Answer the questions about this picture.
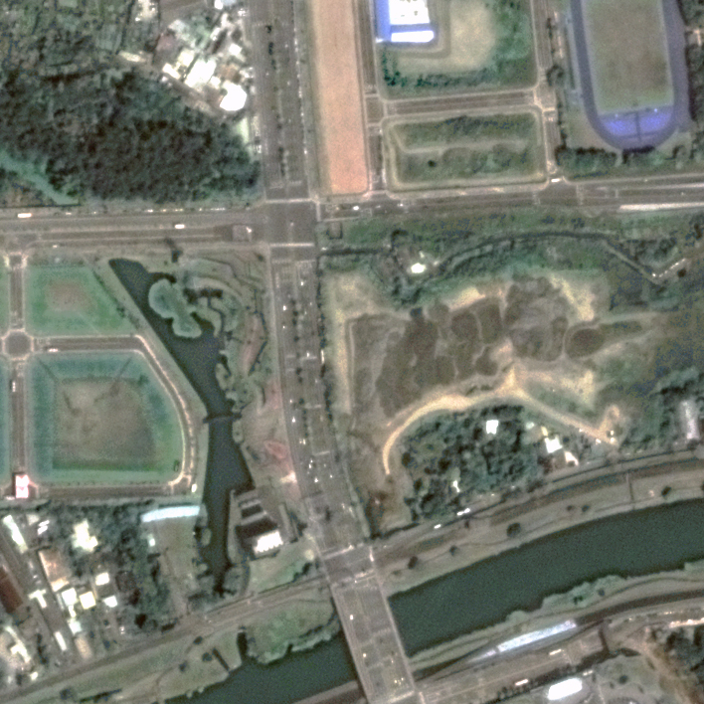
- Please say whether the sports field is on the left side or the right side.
right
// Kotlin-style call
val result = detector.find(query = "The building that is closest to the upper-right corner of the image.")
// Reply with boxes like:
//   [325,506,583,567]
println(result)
[375,0,433,44]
